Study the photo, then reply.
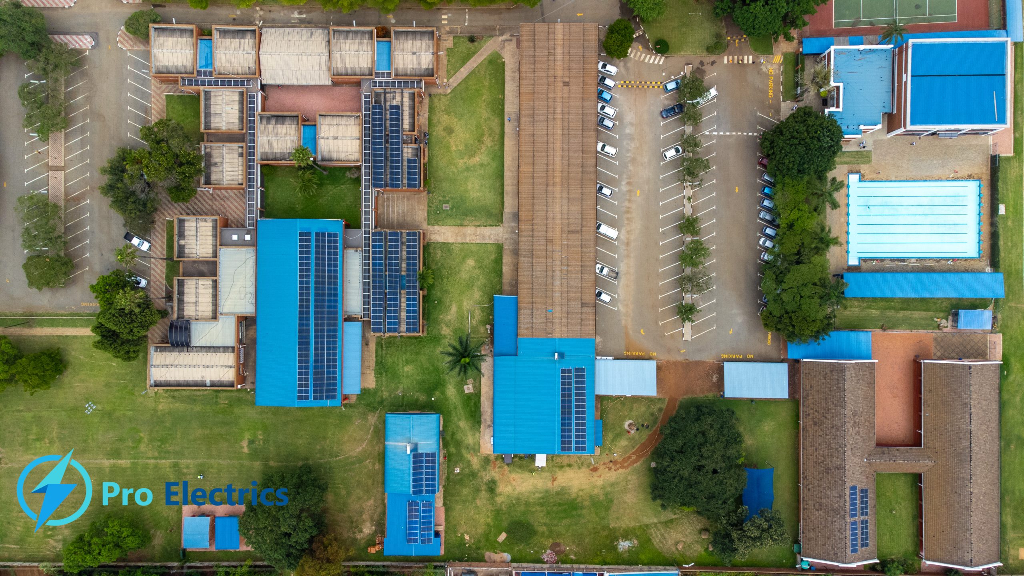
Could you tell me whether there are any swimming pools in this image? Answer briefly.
Yes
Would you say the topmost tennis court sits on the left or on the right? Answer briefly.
right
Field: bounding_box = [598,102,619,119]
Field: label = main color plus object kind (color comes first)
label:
white car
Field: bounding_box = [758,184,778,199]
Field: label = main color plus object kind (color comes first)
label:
blue car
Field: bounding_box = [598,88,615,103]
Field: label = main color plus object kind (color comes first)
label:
blue car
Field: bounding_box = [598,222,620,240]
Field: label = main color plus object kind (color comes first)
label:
white car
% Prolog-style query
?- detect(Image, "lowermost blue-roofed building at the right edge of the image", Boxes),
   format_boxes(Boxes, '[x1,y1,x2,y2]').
[951,310,993,329]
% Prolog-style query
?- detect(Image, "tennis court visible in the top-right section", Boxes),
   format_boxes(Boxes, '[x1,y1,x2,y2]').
[805,0,990,37]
